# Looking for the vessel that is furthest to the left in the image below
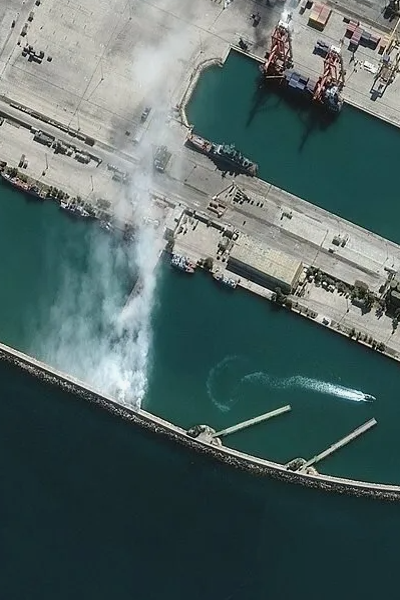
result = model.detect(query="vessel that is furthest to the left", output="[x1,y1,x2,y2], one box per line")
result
[0,174,47,202]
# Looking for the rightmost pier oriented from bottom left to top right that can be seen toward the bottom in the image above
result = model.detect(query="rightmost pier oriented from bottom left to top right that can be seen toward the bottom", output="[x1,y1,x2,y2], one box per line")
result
[299,420,378,469]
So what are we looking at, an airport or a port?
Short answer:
port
